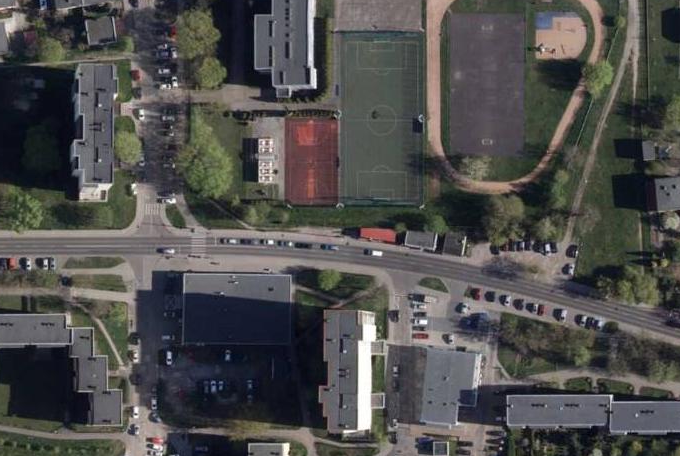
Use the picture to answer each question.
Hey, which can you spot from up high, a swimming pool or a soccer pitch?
soccer pitch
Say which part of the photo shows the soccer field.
top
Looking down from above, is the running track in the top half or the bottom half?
top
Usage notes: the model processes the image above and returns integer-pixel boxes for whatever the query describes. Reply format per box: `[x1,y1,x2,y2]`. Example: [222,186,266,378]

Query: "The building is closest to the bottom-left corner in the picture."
[0,314,128,425]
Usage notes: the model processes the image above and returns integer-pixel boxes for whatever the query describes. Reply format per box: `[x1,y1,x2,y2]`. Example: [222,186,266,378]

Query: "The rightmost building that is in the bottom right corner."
[610,401,680,435]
